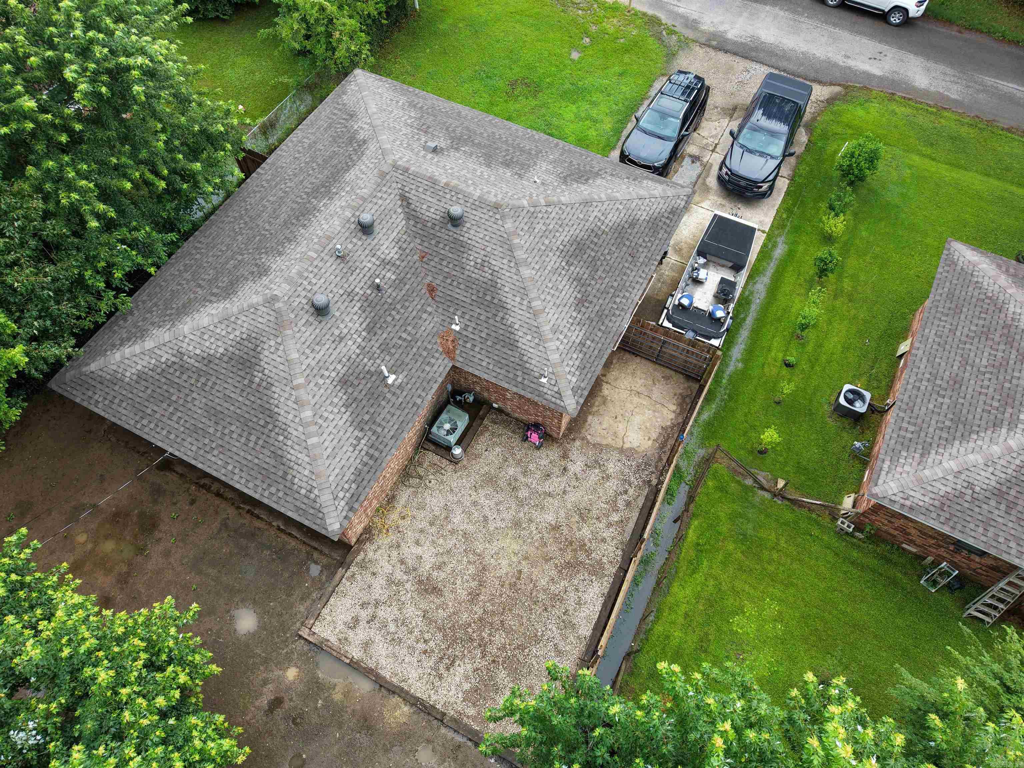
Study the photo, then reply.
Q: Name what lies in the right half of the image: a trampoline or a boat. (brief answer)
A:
boat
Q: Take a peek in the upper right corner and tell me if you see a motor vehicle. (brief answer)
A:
Yes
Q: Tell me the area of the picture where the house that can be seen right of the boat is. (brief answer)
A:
right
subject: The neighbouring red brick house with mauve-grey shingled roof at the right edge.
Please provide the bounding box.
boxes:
[840,235,1024,606]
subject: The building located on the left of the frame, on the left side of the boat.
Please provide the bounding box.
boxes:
[46,66,696,546]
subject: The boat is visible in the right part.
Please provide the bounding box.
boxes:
[665,210,758,349]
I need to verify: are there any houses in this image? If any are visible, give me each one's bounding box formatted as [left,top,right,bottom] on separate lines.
[46,66,696,546]
[840,235,1024,606]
